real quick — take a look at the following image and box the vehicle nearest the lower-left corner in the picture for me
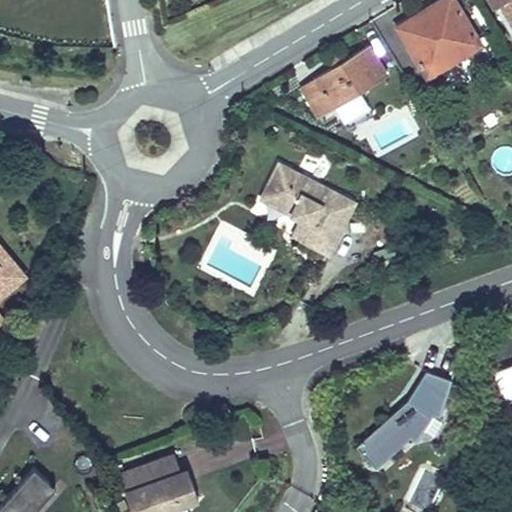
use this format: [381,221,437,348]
[28,422,50,443]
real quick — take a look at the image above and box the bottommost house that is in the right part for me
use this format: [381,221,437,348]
[398,460,440,512]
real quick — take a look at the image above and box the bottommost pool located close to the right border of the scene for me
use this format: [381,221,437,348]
[492,144,512,176]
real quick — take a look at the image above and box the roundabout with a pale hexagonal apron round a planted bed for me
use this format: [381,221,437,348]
[91,73,220,206]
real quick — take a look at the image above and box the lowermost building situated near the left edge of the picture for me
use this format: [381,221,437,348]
[0,474,54,512]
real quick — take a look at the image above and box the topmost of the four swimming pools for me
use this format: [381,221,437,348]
[352,106,420,157]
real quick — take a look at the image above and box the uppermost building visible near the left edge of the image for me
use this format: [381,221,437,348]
[0,244,29,308]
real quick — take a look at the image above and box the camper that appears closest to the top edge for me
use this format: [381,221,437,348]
[472,4,488,29]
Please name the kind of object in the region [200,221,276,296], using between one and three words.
swimming pool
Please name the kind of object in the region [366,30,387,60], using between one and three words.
vehicle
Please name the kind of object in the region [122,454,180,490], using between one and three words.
house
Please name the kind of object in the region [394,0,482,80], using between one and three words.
house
